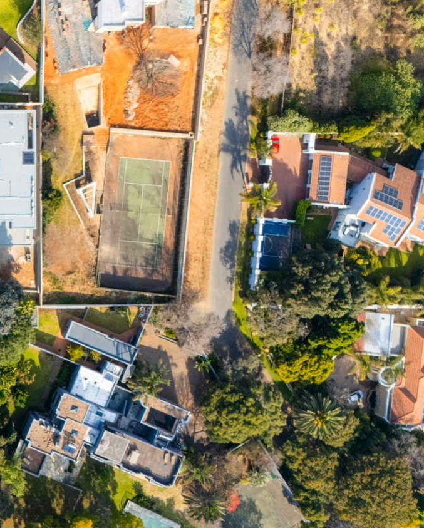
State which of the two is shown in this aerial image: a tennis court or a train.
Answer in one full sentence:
Visible in the photo is a tennis court.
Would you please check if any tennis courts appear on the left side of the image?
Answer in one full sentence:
Yes, a tennis court shows up on the left side of the image.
